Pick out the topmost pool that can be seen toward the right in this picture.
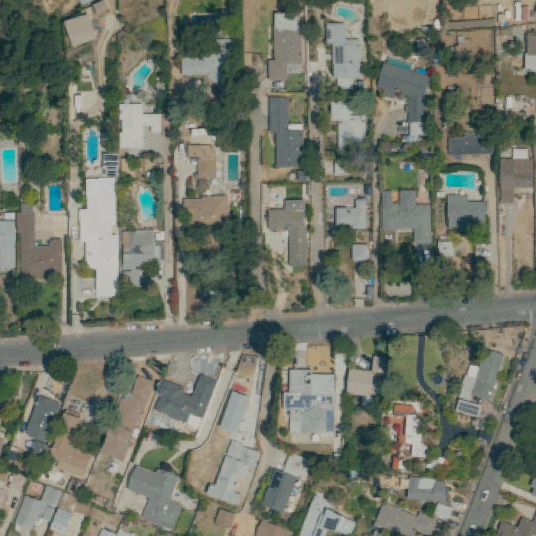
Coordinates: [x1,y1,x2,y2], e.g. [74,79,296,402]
[335,7,359,23]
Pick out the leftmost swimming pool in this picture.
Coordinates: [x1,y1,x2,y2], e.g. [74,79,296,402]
[1,148,19,183]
